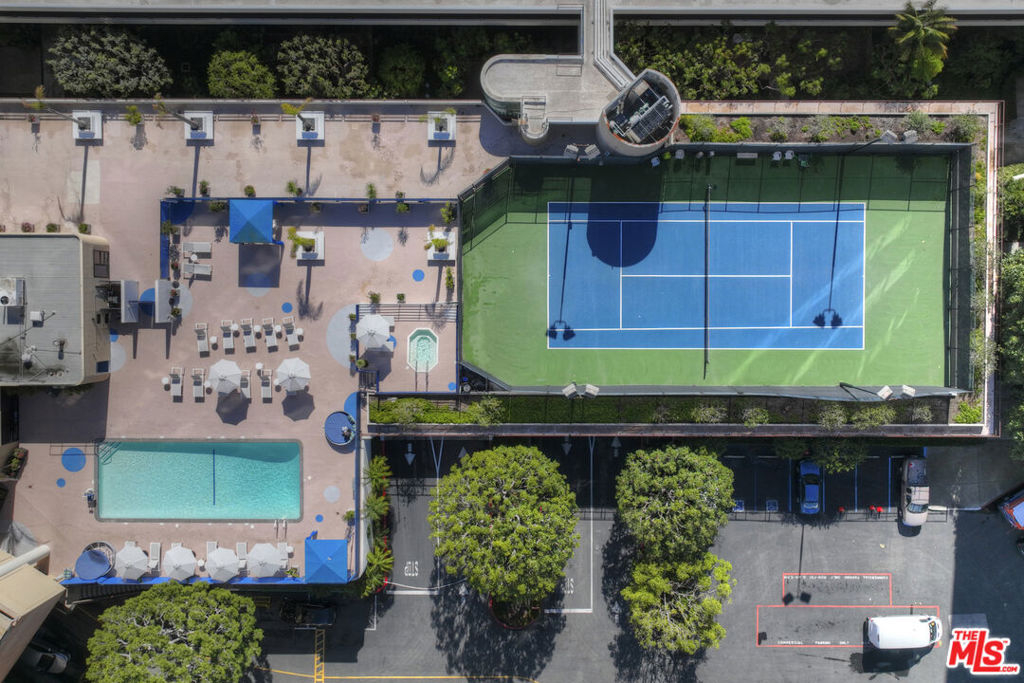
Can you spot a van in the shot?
Yes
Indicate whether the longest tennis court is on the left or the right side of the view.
right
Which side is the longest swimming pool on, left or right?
left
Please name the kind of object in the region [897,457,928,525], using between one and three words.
truck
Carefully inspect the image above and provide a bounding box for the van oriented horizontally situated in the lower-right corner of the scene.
[866,613,942,646]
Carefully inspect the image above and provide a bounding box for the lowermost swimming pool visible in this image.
[85,435,310,529]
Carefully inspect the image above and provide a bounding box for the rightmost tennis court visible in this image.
[461,153,951,386]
